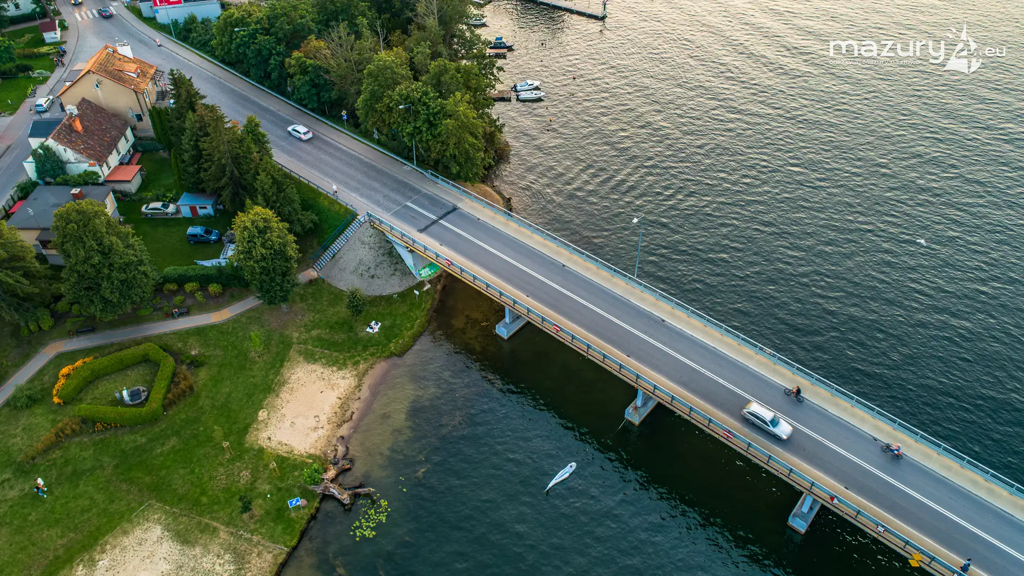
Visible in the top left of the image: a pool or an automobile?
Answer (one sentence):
The one visible in the top left of the image is an automobile.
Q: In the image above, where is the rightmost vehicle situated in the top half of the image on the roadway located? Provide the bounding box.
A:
[281,123,310,141]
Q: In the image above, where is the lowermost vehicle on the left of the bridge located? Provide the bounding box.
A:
[183,224,219,242]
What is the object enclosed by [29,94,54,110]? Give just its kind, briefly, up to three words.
car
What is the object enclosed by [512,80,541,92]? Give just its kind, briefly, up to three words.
boat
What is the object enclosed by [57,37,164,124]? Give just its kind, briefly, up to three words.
house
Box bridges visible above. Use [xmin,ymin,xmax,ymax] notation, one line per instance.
[368,168,1024,576]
